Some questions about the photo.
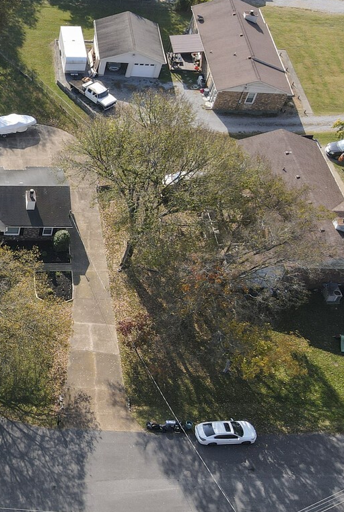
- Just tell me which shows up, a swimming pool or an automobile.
automobile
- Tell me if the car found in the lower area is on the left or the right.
right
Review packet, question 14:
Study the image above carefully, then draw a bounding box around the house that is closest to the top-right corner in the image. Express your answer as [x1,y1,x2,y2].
[189,0,295,112]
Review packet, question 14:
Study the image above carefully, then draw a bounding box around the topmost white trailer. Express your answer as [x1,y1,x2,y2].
[57,26,87,75]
